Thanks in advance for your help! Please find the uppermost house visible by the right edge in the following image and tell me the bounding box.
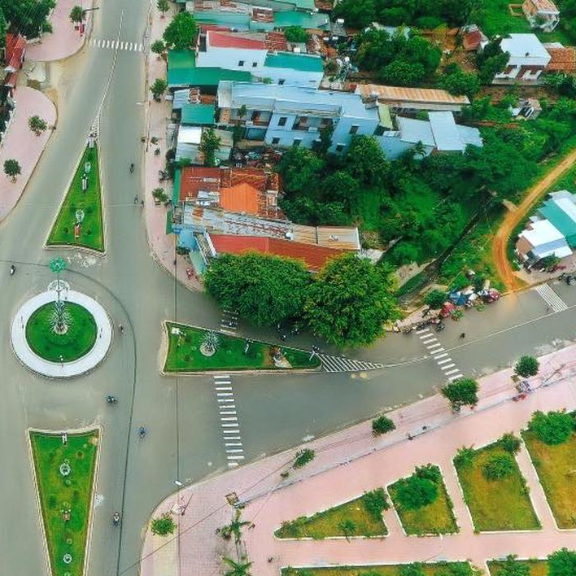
[515,0,561,31]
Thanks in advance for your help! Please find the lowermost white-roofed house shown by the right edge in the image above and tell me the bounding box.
[507,219,573,266]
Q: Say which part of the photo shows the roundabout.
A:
left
